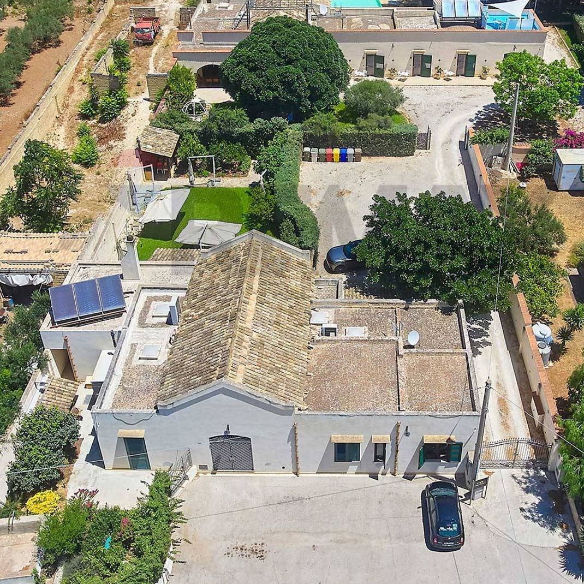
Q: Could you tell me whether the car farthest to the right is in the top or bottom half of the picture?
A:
bottom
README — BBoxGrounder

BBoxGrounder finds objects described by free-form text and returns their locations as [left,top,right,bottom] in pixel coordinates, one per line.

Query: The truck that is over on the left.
[130,25,158,47]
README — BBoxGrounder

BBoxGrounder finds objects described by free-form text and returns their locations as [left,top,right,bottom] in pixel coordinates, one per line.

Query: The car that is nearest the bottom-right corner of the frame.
[420,480,467,553]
